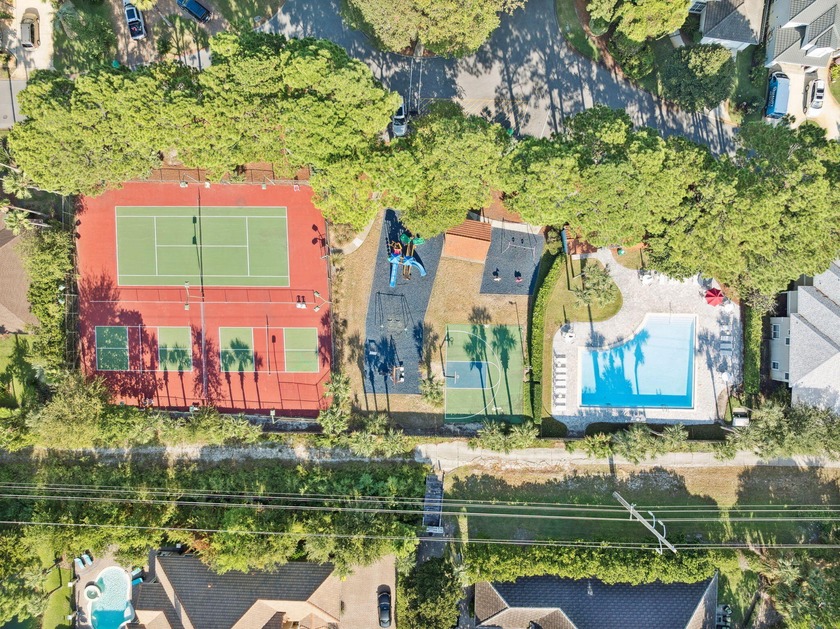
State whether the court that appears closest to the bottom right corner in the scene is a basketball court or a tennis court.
basketball court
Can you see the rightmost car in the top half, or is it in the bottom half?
top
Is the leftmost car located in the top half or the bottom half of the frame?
top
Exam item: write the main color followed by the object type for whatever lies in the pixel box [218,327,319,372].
green sports court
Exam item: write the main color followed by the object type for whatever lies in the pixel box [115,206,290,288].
green tennis court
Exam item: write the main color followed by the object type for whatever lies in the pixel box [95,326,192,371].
green sports court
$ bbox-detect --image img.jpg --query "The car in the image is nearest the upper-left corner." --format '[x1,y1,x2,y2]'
[18,11,40,47]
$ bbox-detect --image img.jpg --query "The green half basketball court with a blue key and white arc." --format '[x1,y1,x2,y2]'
[445,324,524,423]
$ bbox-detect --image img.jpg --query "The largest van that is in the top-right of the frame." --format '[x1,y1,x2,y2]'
[764,72,792,120]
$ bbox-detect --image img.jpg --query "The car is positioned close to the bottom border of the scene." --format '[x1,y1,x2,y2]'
[377,590,394,627]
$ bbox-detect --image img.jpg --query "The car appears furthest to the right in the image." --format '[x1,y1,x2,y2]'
[804,78,827,115]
